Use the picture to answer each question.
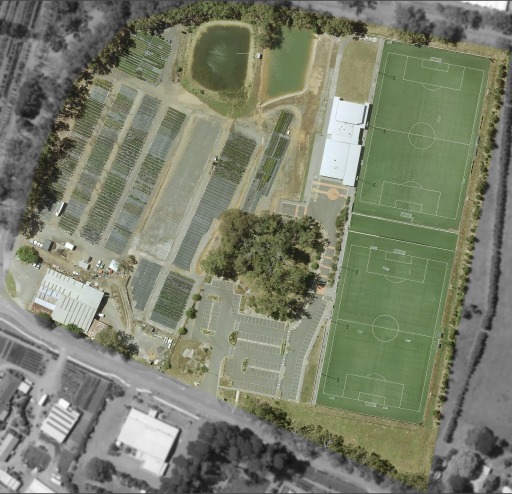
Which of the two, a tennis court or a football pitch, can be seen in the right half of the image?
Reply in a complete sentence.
The feature located in the right half of the image is a football pitch.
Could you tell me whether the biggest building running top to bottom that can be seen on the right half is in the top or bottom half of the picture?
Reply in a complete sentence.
You can find the biggest building running top to bottom that can be seen on the right half in the top half.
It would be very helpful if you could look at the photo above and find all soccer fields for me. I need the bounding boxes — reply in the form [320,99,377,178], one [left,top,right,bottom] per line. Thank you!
[316,232,454,424]
[352,39,491,232]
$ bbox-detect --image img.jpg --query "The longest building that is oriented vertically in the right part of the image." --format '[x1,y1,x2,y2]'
[320,96,370,186]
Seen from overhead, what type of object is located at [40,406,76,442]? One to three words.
greenhouse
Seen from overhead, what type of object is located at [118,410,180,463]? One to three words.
building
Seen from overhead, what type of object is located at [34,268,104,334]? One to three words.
shed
